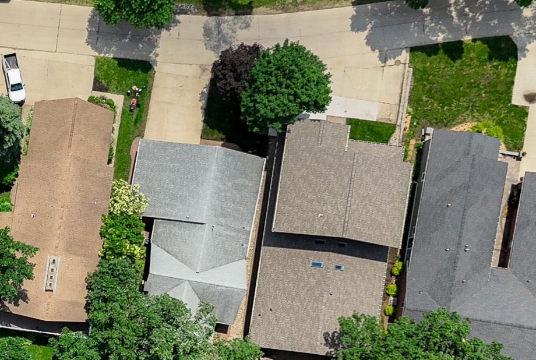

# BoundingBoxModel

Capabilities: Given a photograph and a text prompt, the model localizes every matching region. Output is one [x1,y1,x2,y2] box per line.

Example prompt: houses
[240,119,412,358]
[0,98,114,341]
[389,128,536,360]
[128,139,267,343]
